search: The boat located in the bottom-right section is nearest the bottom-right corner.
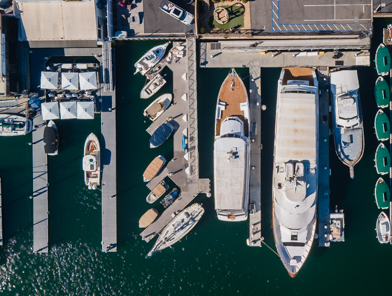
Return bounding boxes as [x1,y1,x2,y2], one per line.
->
[375,210,392,244]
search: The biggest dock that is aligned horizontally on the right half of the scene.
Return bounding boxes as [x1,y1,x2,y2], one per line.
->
[199,40,372,68]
